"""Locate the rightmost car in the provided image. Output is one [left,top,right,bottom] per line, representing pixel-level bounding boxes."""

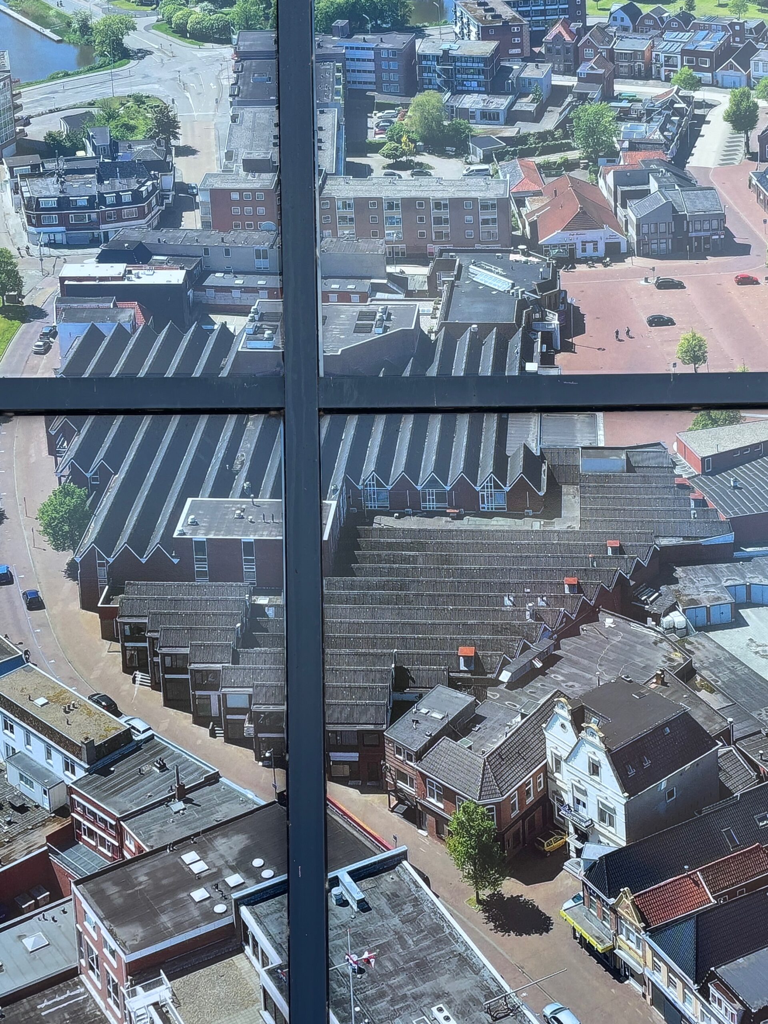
[734,272,762,285]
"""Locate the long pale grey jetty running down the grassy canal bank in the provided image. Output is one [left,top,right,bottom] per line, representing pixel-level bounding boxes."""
[0,3,63,44]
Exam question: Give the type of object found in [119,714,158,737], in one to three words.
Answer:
car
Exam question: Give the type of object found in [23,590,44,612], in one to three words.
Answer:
car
